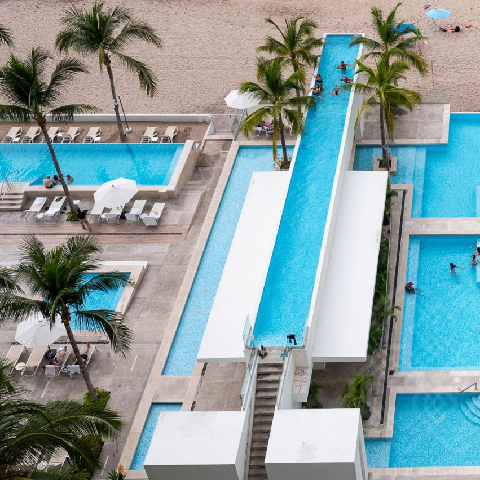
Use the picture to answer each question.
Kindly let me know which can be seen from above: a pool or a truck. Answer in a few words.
pool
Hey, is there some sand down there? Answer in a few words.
Yes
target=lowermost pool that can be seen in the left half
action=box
[129,383,200,480]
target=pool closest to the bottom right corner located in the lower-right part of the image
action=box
[363,385,480,480]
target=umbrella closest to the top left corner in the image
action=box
[89,181,141,227]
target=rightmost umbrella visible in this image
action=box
[425,8,453,34]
